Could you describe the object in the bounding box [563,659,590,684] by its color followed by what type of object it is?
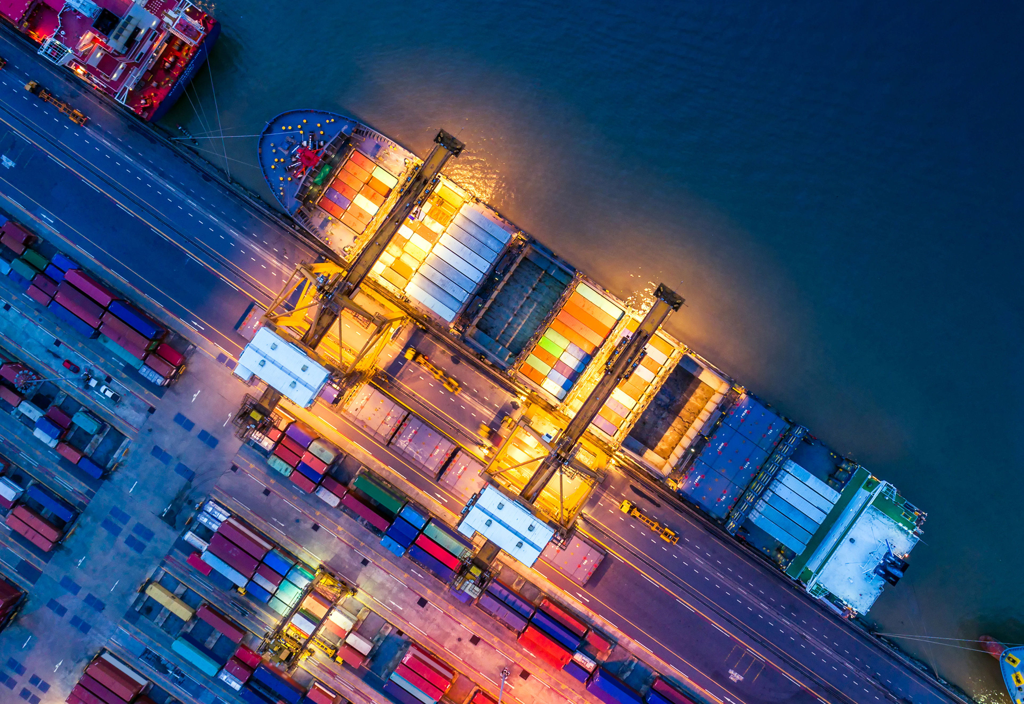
purple shipping container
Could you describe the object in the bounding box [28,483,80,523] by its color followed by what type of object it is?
blue shipping container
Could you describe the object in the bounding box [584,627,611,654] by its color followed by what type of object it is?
red shipping container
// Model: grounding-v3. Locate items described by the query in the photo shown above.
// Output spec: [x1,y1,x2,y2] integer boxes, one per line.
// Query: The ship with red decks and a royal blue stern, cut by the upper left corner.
[0,0,222,120]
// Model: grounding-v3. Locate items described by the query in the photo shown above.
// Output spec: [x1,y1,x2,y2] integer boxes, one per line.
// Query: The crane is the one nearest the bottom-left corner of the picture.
[241,566,357,687]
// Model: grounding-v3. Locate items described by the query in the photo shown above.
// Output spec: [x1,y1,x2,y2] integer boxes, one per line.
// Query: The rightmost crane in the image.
[445,280,693,604]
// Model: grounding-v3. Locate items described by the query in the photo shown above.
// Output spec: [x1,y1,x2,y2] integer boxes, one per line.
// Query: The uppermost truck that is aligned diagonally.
[20,82,86,131]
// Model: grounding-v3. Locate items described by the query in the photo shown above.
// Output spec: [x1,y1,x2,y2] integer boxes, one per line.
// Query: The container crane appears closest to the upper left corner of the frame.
[224,123,472,448]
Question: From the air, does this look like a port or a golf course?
port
